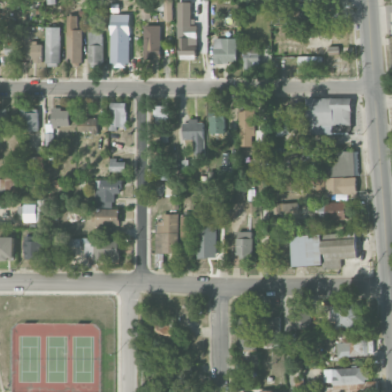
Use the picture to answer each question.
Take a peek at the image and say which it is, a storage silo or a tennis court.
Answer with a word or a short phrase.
tennis court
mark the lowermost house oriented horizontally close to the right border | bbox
[324,368,377,392]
